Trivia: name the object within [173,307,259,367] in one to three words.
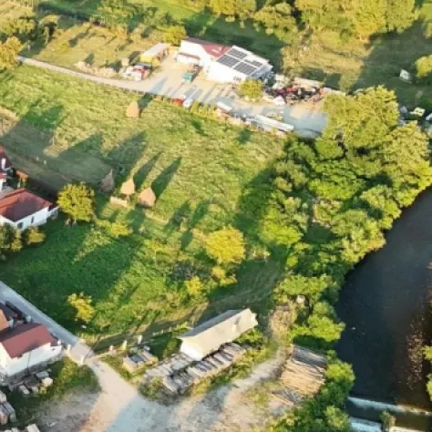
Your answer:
barn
